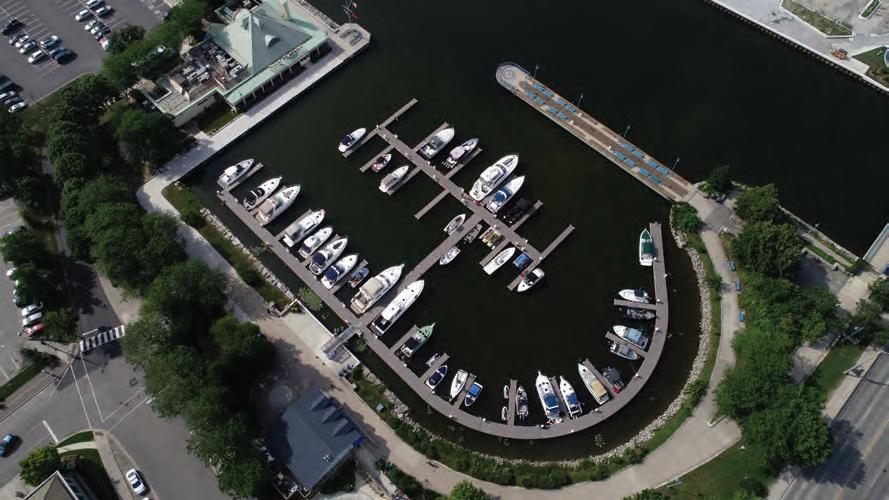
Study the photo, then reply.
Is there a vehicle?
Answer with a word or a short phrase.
Yes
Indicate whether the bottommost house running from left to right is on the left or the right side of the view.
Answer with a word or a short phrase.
left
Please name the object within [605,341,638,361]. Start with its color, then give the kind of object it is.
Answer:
gray boat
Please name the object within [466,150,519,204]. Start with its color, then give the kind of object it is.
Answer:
white boat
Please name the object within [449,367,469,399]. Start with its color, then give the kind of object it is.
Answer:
white boat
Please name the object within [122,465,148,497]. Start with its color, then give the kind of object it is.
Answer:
white car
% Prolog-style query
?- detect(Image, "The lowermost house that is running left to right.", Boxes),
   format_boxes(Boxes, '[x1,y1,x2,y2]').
[16,467,93,500]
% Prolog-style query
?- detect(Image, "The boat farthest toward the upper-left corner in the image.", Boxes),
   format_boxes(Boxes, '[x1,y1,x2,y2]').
[216,158,254,191]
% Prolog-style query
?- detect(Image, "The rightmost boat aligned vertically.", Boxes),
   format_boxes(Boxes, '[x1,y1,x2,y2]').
[635,227,654,267]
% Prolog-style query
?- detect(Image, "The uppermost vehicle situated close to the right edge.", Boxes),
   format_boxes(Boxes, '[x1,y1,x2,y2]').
[826,43,852,58]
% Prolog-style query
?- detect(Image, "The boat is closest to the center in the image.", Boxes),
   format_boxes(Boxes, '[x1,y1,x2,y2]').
[439,246,462,265]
